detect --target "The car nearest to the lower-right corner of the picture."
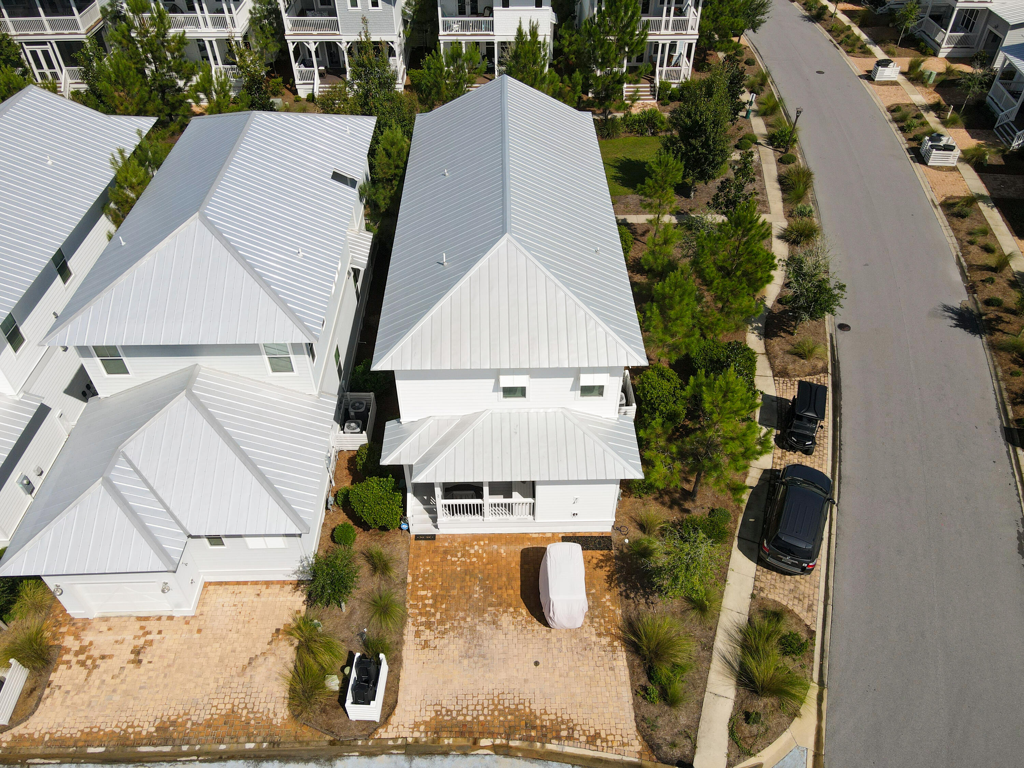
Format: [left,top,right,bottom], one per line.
[760,467,837,581]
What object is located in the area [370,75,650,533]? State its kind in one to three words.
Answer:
house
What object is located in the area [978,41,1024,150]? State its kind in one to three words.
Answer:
house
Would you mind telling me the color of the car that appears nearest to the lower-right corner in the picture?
black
